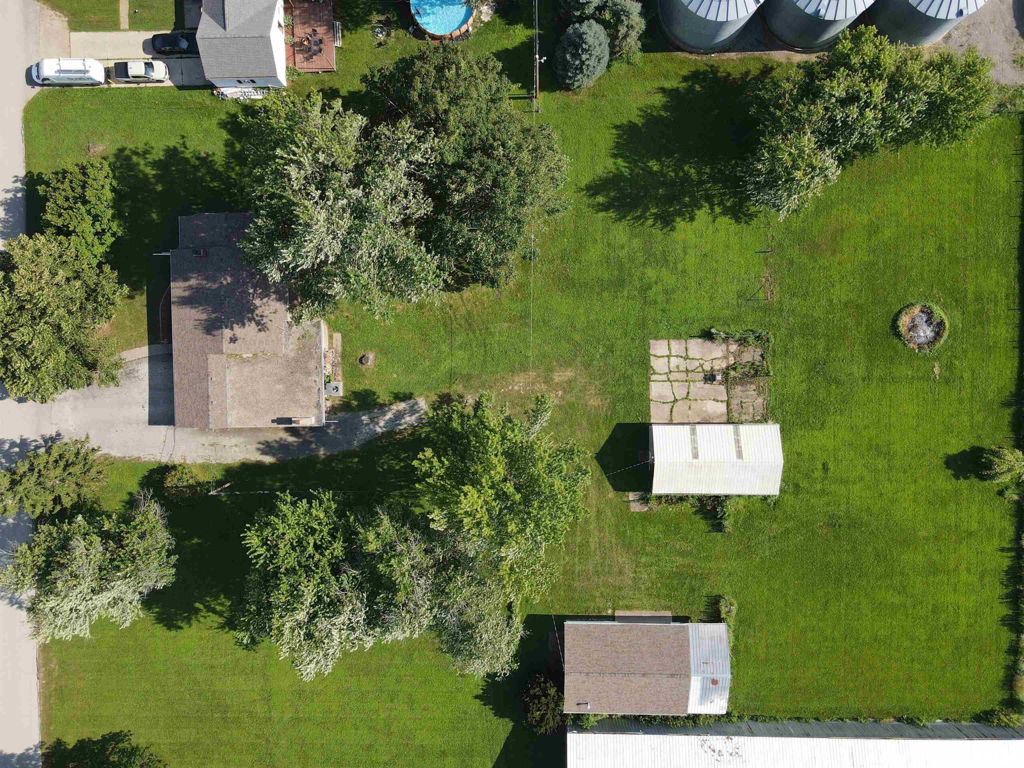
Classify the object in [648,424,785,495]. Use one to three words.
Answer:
shed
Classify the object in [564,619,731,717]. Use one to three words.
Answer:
building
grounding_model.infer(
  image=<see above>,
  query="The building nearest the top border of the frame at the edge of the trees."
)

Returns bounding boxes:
[197,0,286,89]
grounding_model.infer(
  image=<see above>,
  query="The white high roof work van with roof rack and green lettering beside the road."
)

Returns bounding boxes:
[32,55,103,88]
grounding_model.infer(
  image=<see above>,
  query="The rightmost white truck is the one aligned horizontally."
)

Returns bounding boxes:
[115,56,171,83]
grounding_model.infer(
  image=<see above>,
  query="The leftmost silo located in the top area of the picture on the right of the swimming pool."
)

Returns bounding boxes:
[654,0,762,57]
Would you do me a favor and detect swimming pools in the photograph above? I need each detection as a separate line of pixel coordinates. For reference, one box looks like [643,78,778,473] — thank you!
[409,0,470,40]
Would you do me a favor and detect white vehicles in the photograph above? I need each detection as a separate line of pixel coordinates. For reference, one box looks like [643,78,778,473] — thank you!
[115,56,171,83]
[32,55,103,88]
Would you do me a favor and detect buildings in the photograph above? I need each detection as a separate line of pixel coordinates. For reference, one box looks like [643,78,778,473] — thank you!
[648,424,785,495]
[567,718,1024,768]
[197,0,286,89]
[564,619,731,717]
[170,213,327,428]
